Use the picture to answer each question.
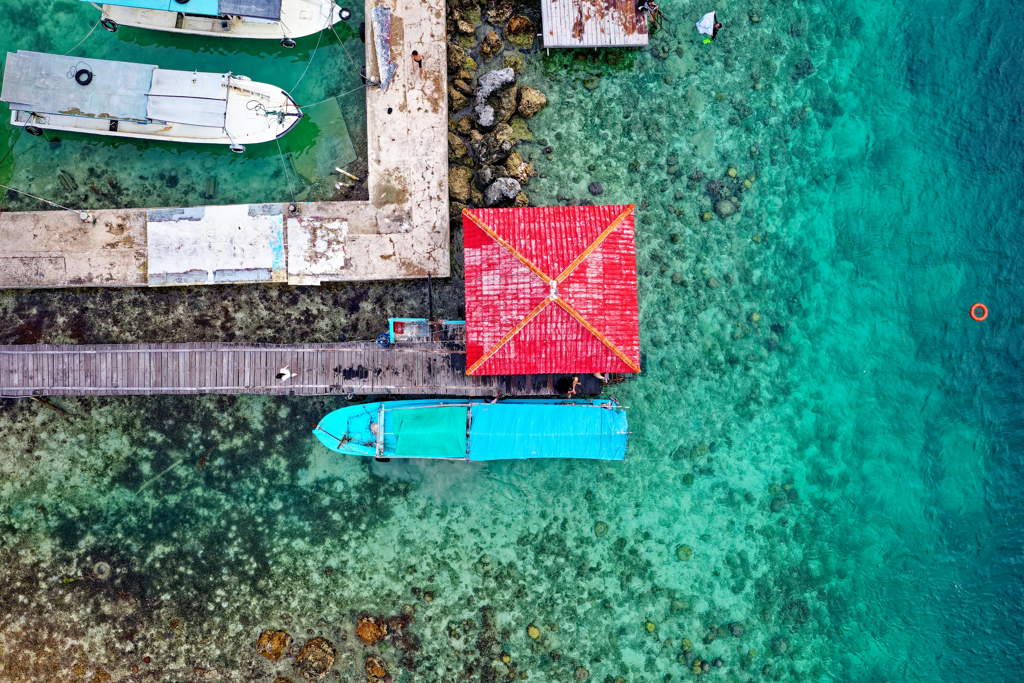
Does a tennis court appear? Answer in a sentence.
No, there's no tennis court here.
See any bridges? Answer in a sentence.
No, the picture doesn't show any bridge.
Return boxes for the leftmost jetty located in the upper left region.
[0,0,451,289]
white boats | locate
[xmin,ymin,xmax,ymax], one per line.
[1,49,306,145]
[80,0,347,41]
